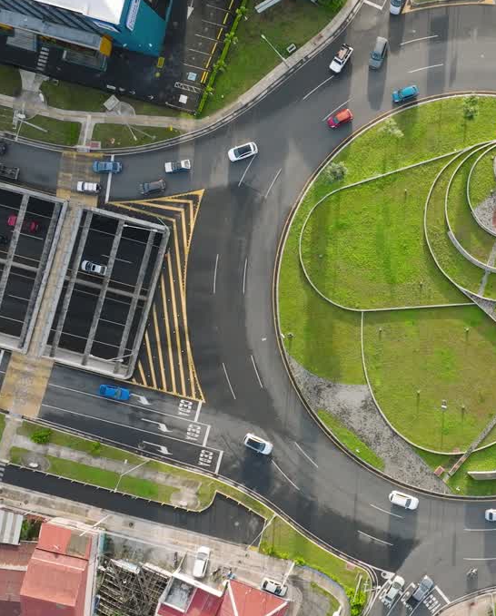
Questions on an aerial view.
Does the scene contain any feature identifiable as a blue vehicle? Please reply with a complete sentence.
Yes, the frame does contain a blue vehicle.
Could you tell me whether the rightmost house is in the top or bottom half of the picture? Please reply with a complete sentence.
You can find the rightmost house in the bottom half.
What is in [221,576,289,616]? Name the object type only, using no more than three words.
house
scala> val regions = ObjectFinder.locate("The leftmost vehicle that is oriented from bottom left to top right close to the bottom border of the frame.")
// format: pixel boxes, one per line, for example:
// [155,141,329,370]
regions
[381,575,403,604]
